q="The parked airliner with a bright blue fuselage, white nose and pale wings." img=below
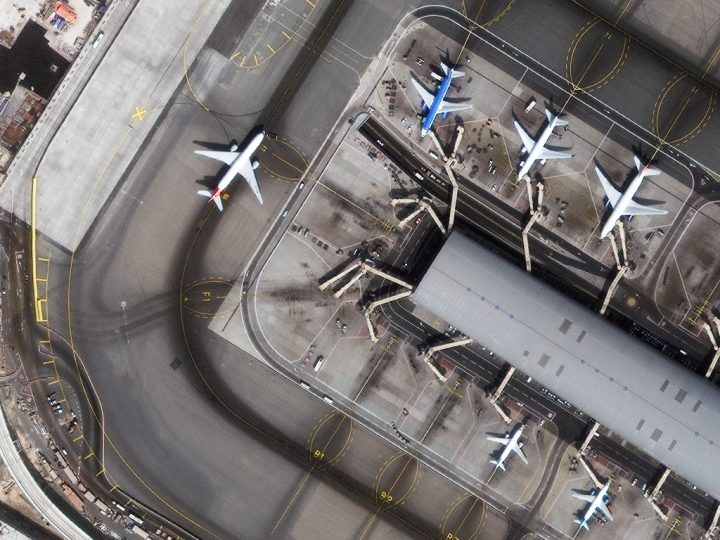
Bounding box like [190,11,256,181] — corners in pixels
[413,61,476,136]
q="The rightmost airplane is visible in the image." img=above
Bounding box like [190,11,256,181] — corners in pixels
[597,155,671,238]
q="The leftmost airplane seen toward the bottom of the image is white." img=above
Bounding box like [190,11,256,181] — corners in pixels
[487,426,528,472]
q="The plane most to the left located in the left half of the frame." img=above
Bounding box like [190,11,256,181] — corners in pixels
[194,132,265,214]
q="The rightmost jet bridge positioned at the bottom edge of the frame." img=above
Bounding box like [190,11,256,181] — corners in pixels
[648,498,669,523]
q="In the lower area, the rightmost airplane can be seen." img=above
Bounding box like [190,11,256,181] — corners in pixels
[572,482,613,533]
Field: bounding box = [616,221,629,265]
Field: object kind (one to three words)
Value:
jet bridge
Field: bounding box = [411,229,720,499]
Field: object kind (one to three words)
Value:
building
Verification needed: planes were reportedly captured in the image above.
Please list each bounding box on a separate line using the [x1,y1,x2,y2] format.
[513,110,576,181]
[413,61,476,136]
[194,132,265,214]
[487,426,528,472]
[597,155,671,238]
[572,482,613,533]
